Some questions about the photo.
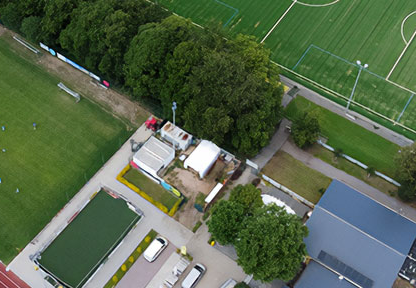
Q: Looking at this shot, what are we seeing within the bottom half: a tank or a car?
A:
car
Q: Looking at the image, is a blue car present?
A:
No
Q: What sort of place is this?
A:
sports ground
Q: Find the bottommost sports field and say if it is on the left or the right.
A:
left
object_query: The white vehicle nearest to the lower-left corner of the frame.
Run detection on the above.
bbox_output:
[144,237,167,261]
